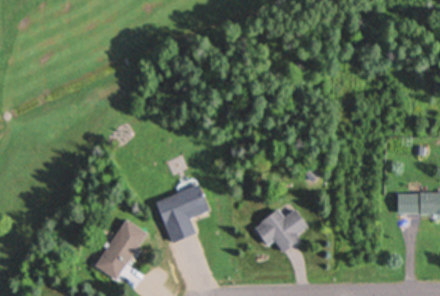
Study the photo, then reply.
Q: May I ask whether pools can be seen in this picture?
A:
No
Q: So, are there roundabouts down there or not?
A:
No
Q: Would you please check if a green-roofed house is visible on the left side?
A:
No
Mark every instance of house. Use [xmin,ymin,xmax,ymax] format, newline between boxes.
[254,212,312,252]
[398,182,440,216]
[95,220,148,280]
[158,182,210,250]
